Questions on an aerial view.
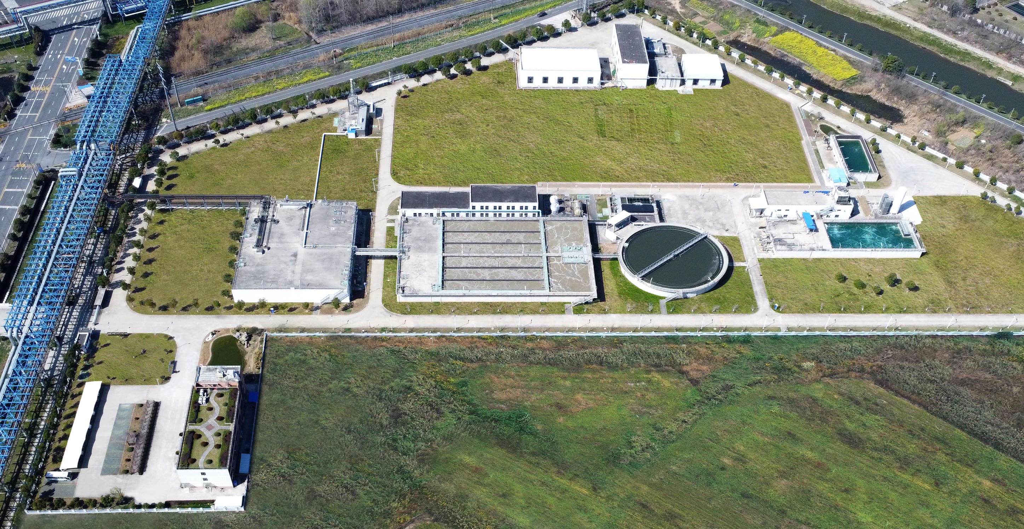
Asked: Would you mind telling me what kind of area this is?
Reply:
industrial area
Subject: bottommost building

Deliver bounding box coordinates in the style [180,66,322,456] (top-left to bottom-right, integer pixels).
[214,496,243,508]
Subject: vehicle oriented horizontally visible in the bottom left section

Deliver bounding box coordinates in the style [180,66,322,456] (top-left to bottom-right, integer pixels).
[42,470,76,484]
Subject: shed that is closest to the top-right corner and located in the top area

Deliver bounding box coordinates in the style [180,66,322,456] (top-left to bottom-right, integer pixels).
[828,168,848,188]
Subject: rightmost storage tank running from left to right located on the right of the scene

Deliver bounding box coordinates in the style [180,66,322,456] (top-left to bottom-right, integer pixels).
[765,217,924,260]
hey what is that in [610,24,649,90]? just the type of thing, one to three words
building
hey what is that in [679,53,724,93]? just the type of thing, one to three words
building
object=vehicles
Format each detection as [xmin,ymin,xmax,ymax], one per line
[537,10,548,16]
[42,470,76,484]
